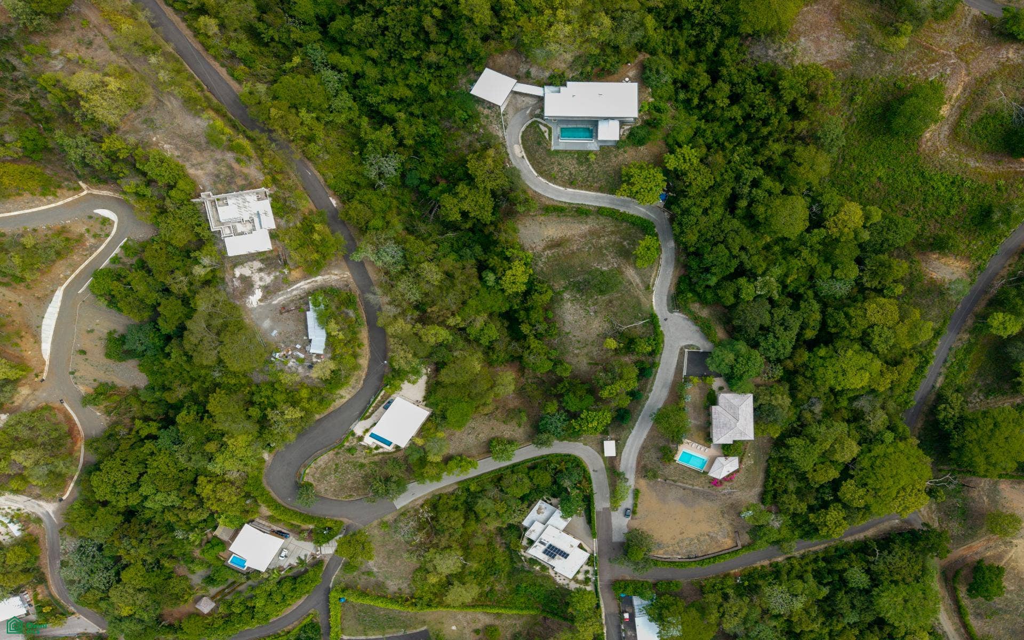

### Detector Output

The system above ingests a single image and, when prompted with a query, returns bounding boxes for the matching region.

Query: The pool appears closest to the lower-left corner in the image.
[229,554,248,570]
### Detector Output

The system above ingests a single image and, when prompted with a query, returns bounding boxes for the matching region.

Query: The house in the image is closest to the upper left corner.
[193,187,278,256]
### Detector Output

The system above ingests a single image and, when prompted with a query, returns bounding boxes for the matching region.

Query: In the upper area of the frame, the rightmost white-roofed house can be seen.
[544,82,638,141]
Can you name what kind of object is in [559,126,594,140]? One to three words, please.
swimming pool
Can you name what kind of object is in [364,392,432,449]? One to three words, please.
house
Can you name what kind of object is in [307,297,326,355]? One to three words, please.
shed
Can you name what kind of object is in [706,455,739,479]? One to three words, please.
building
